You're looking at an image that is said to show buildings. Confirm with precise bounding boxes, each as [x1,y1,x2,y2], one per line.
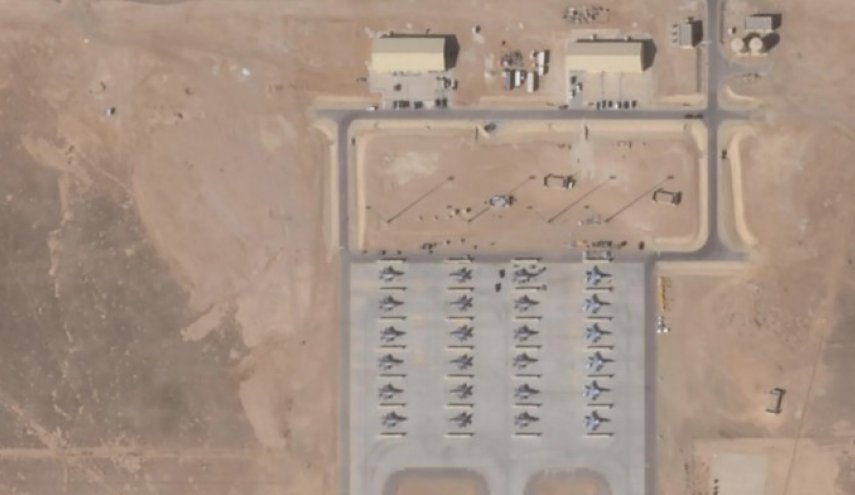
[565,42,644,73]
[371,38,447,72]
[680,23,694,48]
[746,17,773,31]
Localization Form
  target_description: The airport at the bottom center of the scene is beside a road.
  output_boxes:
[337,261,656,495]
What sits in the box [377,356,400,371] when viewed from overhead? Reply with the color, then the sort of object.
gray airplane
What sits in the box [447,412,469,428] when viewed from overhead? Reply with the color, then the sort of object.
gray airplane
